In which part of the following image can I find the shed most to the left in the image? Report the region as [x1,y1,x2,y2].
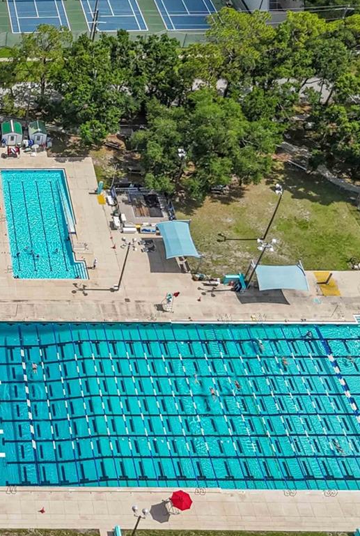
[1,114,24,145]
